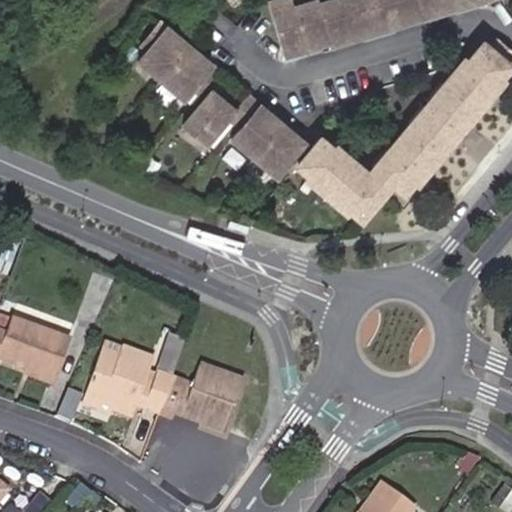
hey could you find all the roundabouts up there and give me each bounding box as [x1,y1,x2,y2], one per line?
[322,264,469,411]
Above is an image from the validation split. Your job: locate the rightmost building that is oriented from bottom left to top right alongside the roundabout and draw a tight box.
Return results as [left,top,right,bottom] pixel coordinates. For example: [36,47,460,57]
[296,42,512,228]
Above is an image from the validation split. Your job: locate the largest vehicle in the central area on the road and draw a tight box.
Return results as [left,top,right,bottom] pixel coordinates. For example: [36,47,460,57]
[185,226,246,255]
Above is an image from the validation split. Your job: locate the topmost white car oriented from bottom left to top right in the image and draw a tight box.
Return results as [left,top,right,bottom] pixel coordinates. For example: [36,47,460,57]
[252,18,270,38]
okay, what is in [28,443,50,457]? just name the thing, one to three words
car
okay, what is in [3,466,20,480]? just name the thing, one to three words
umbrella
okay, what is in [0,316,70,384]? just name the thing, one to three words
house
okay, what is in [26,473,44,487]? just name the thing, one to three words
umbrella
